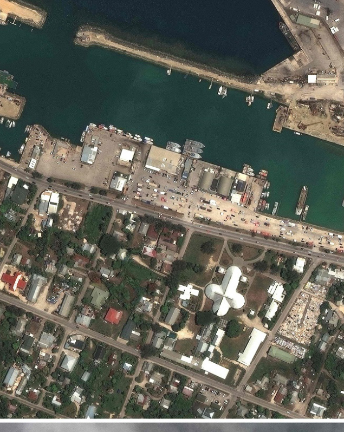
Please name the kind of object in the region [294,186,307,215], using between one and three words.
ship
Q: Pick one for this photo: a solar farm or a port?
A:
port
